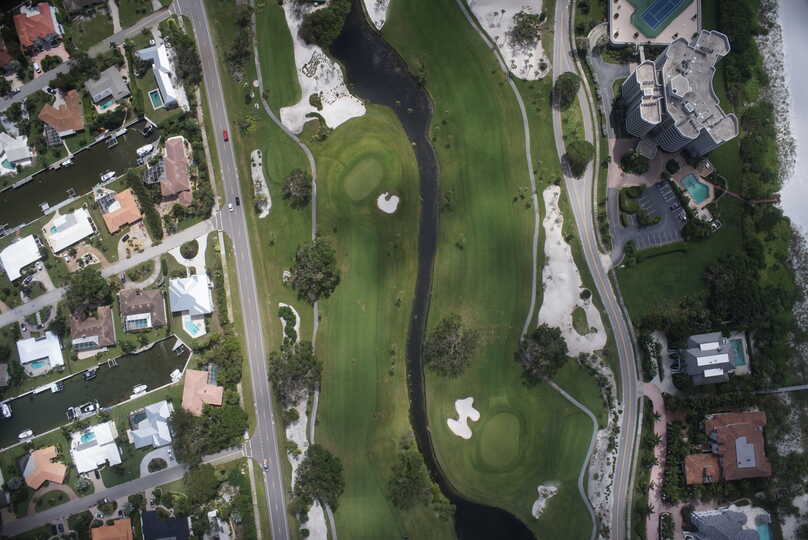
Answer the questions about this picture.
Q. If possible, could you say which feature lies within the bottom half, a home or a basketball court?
home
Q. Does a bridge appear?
No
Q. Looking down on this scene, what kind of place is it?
golf course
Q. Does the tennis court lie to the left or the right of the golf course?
on the right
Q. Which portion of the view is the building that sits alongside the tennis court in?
top right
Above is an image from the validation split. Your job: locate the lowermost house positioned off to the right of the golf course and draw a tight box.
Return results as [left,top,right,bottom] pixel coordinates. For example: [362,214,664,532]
[692,507,761,540]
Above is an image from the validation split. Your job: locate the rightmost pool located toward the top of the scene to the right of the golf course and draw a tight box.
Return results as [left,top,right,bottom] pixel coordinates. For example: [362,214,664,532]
[672,170,713,208]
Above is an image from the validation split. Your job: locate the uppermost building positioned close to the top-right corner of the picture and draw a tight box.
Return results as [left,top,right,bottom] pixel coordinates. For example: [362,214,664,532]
[623,28,739,159]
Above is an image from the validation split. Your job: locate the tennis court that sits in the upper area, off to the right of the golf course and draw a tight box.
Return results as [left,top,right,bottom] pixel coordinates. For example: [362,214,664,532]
[628,0,694,37]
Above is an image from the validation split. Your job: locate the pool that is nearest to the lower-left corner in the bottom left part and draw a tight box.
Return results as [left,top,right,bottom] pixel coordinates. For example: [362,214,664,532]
[69,427,95,451]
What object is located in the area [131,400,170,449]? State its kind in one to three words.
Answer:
house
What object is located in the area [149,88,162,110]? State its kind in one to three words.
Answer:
swimming pool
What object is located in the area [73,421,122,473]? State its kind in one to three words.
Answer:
house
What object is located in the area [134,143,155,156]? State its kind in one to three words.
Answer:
boat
